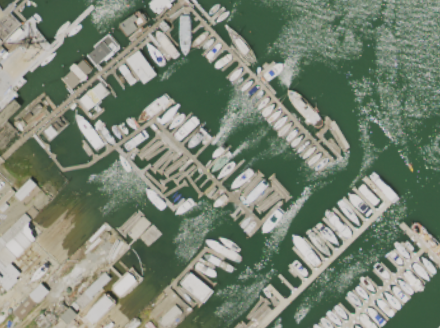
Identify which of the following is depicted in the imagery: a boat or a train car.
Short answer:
boat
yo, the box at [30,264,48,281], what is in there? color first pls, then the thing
white boat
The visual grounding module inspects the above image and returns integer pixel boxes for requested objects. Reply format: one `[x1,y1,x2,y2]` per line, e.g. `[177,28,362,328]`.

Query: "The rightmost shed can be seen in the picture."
[179,270,215,307]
